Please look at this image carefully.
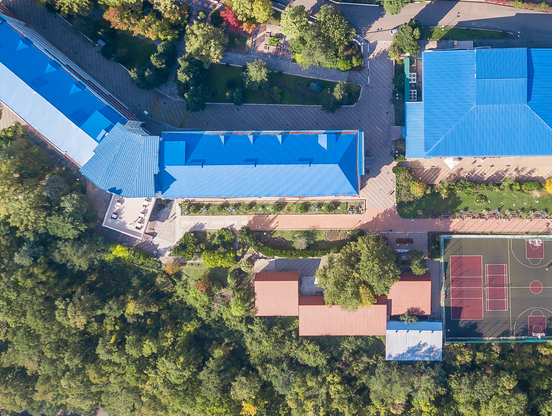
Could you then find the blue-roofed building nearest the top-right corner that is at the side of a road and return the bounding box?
[392,40,552,159]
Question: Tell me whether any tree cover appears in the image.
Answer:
Yes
